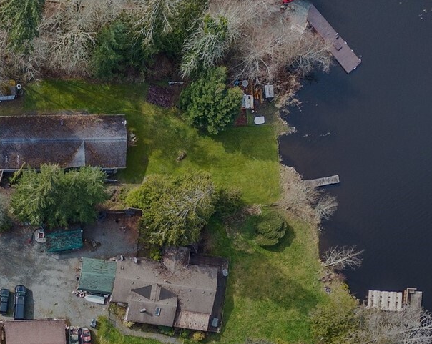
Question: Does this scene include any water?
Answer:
Yes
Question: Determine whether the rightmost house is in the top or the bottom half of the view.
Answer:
bottom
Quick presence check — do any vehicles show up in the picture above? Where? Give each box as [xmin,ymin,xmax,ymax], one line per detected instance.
[69,324,80,344]
[0,287,11,316]
[88,317,98,328]
[81,327,92,344]
[16,286,28,319]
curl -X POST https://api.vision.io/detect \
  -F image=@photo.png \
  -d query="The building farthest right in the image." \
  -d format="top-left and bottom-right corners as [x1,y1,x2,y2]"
[109,247,232,333]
